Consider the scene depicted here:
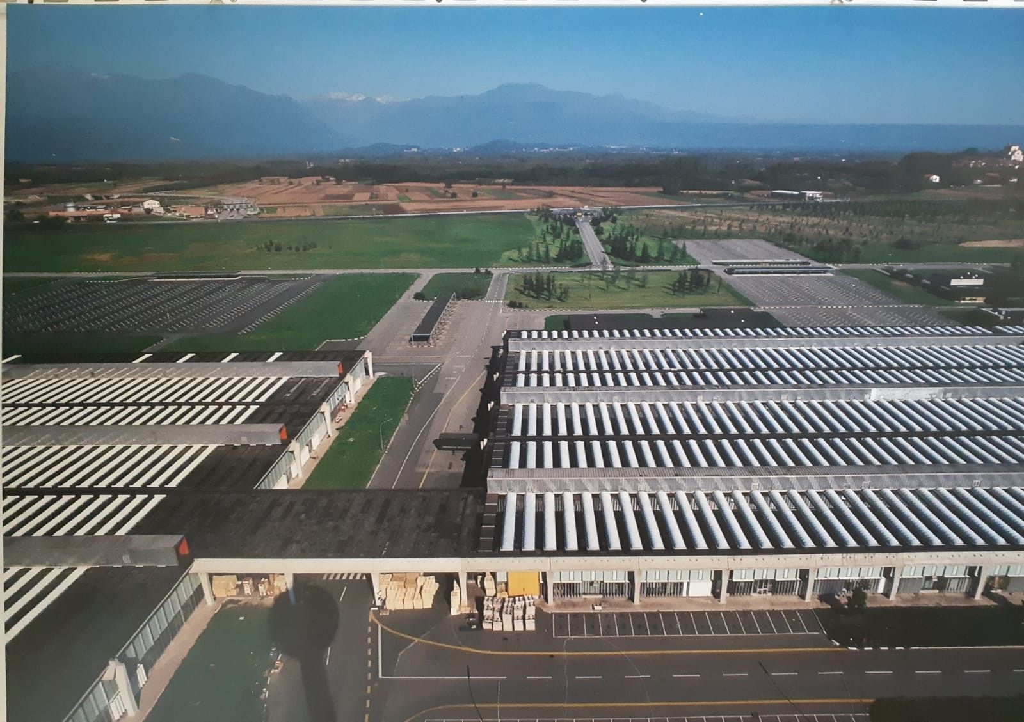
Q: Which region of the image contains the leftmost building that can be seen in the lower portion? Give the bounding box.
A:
[0,350,371,722]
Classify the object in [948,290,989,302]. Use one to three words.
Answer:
building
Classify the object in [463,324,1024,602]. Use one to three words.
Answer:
building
